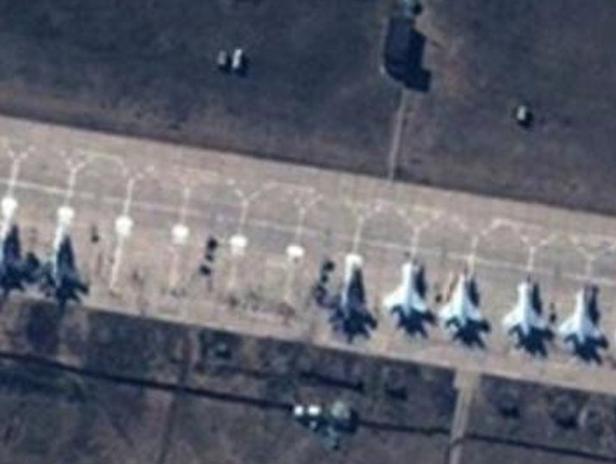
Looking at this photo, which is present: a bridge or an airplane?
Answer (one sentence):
This aerial view contains an airplane.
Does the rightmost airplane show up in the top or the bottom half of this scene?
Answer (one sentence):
The bottom half of the photo is where the rightmost airplane is.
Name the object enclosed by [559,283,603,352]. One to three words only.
airplane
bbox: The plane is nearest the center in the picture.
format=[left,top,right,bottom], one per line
[328,266,372,332]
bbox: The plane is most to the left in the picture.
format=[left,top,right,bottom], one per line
[0,221,29,289]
